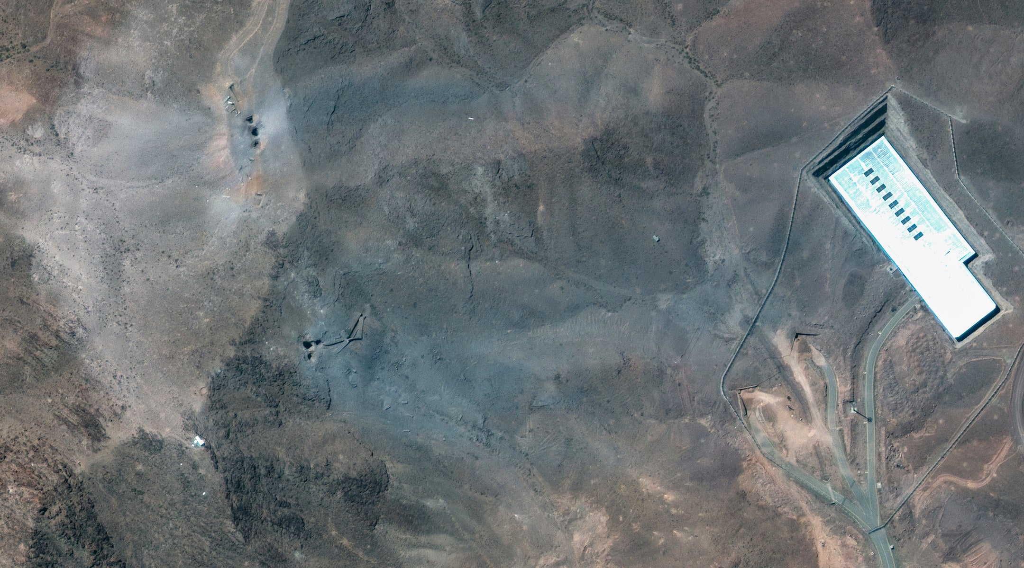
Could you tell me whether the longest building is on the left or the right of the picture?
right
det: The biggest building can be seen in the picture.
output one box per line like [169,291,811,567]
[828,135,996,340]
